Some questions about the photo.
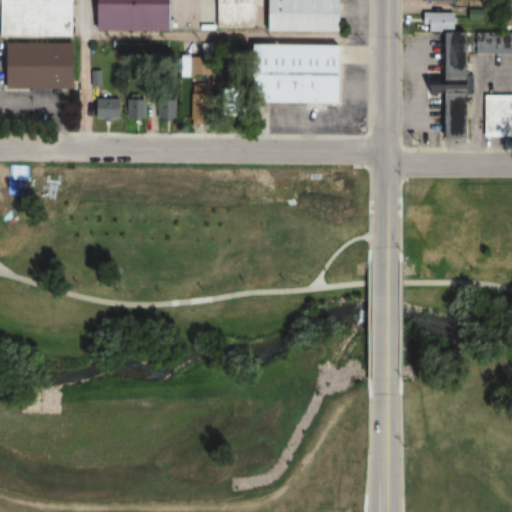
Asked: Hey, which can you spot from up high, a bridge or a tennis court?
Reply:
bridge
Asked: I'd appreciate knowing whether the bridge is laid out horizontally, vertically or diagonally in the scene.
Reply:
vertically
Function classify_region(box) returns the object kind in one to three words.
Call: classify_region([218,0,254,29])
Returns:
building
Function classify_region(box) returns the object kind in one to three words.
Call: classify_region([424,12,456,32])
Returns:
house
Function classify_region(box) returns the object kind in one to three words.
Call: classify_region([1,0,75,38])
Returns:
building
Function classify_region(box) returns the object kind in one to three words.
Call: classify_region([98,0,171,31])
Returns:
shed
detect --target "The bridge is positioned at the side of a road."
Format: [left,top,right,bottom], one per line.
[368,250,404,394]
